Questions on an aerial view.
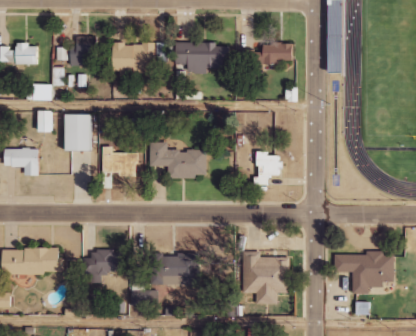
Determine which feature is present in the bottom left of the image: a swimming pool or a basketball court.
swimming pool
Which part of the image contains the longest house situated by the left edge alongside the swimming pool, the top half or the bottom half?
bottom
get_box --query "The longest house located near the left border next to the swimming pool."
[0,247,60,274]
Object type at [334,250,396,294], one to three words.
house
